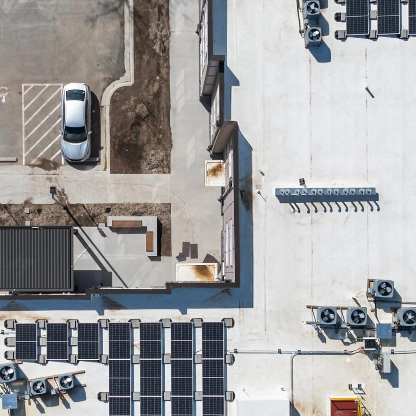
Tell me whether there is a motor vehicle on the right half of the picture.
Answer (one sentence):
No, the scene shows no motor vehicle on the right half of the picture.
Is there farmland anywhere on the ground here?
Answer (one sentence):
No, no farmland is visible.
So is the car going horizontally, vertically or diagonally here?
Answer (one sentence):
The car is laid out vertically.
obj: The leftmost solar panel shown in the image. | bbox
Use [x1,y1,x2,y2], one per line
[16,324,40,361]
